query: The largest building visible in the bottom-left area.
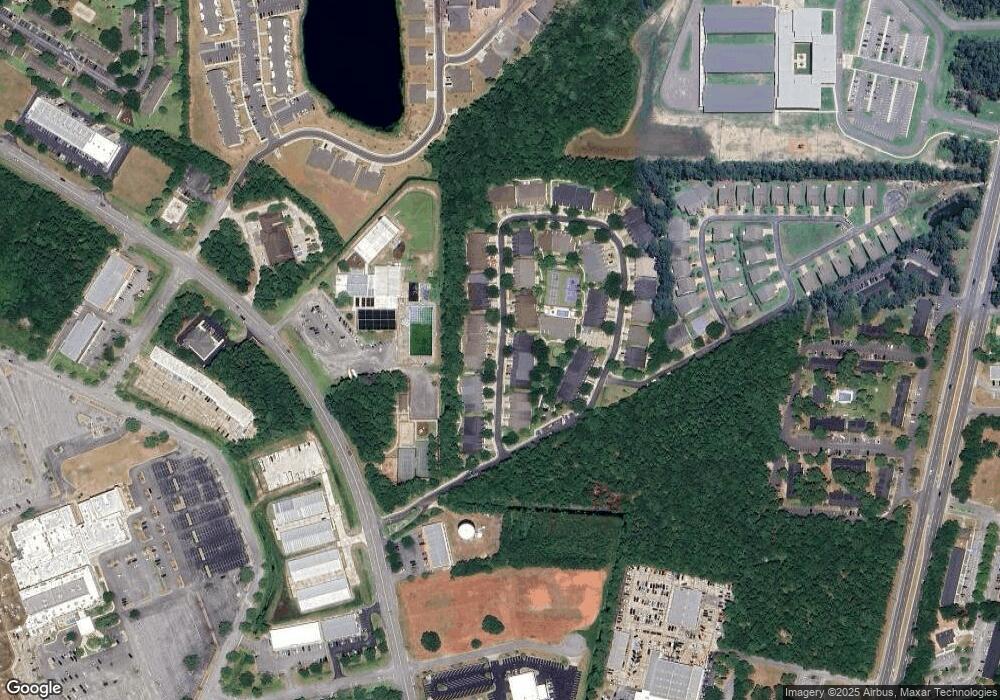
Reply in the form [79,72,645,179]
[10,488,131,635]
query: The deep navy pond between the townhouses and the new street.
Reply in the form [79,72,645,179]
[304,0,403,129]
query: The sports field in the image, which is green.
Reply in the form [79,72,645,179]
[386,185,438,268]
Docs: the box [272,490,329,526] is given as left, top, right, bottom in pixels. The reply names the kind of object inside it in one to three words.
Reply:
building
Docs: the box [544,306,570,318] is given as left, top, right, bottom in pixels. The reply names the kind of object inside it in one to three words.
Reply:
swimming pool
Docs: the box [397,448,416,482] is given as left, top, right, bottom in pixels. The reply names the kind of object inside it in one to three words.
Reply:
tennis court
